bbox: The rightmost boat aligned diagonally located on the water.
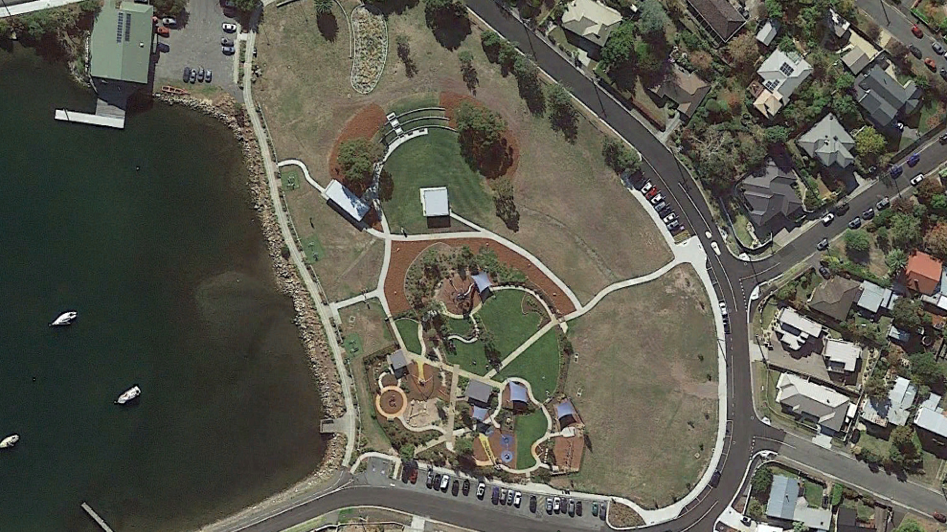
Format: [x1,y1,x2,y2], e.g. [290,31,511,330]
[116,383,140,402]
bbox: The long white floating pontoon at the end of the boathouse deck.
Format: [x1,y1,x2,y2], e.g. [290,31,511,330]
[55,108,125,129]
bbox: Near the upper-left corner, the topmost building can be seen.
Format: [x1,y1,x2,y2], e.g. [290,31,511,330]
[91,0,154,81]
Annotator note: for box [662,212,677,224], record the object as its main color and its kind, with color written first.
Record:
white vehicle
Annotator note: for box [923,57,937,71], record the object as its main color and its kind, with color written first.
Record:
red vehicle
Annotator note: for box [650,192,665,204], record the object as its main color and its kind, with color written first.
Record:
white vehicle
